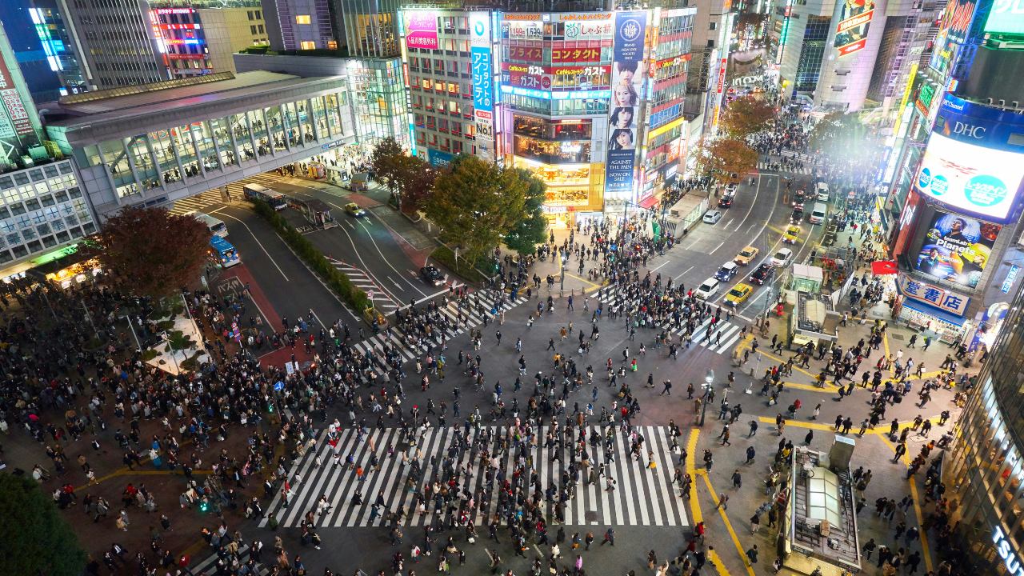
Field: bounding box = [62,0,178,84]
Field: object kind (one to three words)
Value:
building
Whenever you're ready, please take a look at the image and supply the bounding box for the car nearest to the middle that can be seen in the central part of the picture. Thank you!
[419,260,446,282]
